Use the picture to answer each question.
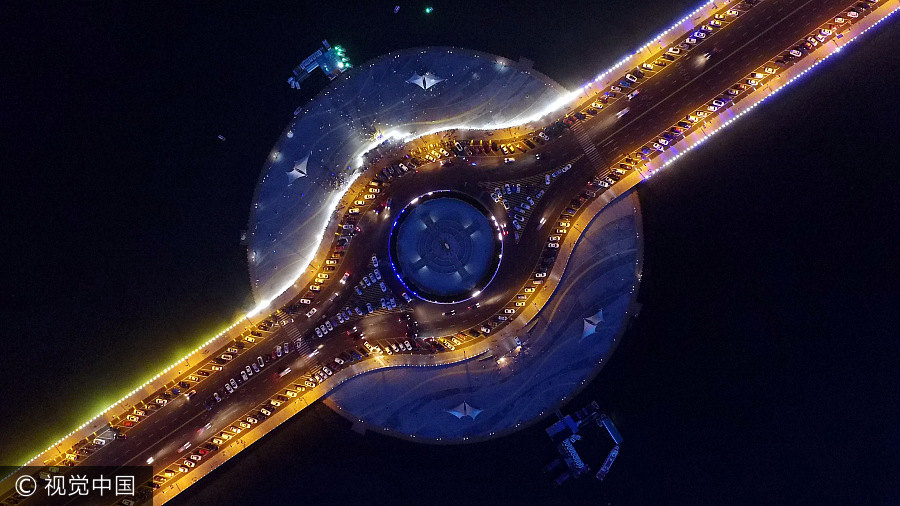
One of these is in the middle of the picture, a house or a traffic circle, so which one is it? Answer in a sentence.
The one visible in the middle of the picture is a traffic circle.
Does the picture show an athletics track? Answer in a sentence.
No, the scene contains no athletics track.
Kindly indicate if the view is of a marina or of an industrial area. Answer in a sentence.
It's a marina.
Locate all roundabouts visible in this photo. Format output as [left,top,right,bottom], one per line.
[388,190,504,304]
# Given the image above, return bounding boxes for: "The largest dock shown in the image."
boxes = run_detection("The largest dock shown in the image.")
[545,409,625,480]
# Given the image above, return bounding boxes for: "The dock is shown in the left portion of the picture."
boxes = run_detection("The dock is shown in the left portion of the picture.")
[297,48,346,82]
